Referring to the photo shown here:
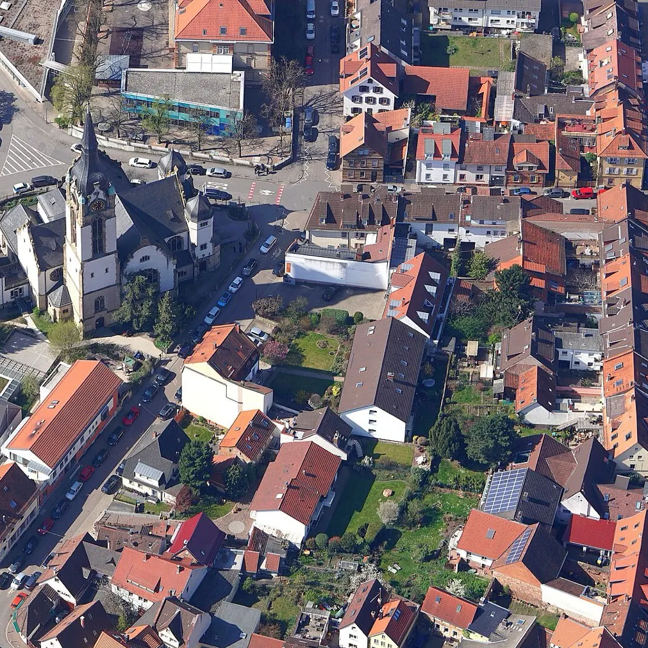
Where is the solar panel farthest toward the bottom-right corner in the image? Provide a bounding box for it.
[503,528,531,560]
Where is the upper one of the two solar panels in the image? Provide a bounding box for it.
[486,473,524,515]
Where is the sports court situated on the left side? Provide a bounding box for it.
[110,27,143,67]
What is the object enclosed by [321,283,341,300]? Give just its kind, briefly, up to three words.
car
